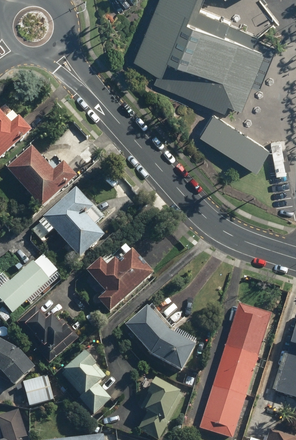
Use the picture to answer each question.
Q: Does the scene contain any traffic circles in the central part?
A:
No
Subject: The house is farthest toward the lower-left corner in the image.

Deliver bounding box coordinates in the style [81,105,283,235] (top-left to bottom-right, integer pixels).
[0,410,26,440]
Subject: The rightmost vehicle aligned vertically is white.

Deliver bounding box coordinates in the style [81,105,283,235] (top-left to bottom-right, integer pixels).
[271,140,286,180]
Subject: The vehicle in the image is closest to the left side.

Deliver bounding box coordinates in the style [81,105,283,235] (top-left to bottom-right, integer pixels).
[16,248,29,262]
